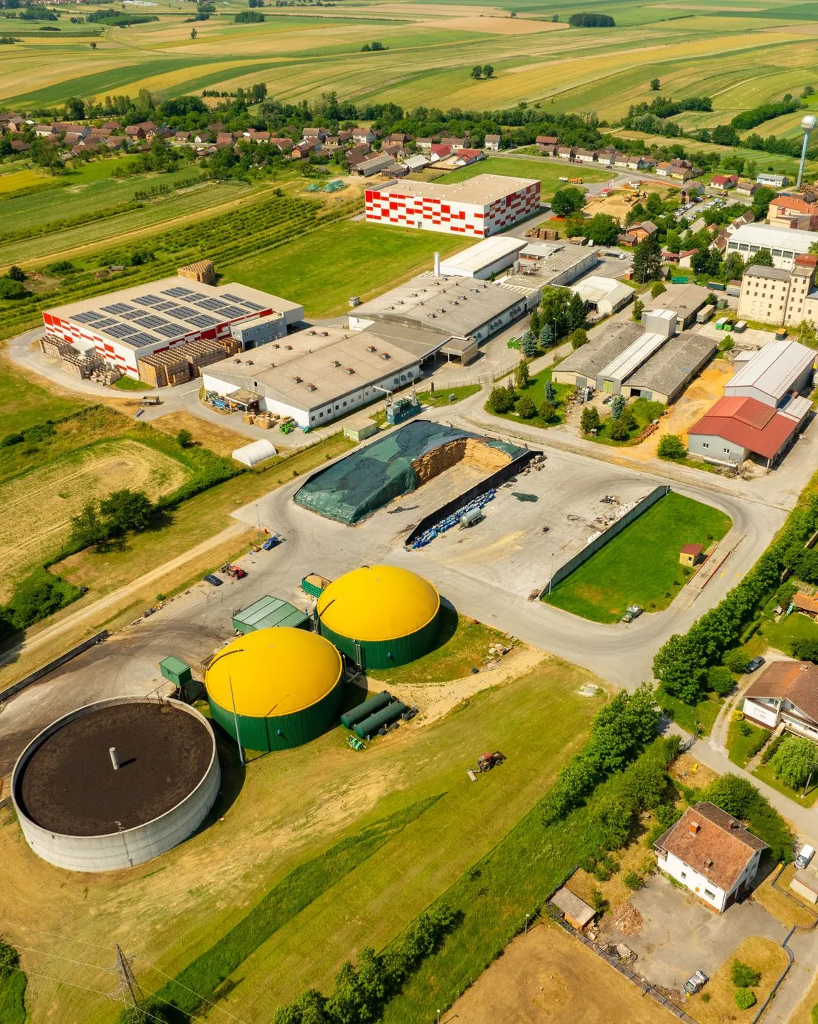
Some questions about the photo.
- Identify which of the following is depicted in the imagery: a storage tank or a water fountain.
storage tank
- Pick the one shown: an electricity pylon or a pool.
electricity pylon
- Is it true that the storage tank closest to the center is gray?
No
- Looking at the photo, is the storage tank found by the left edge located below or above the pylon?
above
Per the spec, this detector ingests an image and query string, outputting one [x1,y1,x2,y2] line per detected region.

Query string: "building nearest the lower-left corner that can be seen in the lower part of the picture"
[160,655,199,702]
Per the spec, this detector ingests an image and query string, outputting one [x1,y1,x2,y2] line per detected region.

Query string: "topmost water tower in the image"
[795,115,818,187]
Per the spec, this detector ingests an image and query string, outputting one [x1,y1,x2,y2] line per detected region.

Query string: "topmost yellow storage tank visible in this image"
[315,566,441,668]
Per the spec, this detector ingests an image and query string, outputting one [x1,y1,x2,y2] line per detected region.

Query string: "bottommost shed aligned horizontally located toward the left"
[231,594,312,634]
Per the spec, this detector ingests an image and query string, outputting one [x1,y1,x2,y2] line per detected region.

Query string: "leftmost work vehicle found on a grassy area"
[458,748,506,770]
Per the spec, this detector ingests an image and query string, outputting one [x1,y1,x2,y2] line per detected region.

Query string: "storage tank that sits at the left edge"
[11,671,220,871]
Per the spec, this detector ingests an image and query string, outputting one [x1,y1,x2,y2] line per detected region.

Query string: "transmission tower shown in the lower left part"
[96,944,143,1019]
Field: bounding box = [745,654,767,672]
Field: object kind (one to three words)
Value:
car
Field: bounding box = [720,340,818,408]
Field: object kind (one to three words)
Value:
shed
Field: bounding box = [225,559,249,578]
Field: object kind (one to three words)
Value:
work vehicle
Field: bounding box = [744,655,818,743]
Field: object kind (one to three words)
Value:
house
